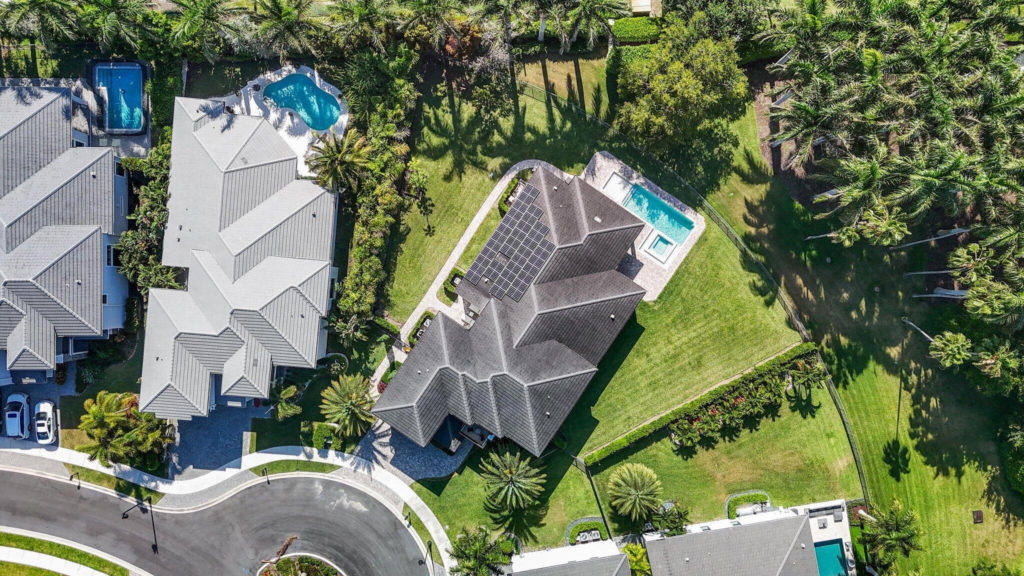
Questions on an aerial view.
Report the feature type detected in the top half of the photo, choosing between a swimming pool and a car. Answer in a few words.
swimming pool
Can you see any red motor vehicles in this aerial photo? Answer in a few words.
No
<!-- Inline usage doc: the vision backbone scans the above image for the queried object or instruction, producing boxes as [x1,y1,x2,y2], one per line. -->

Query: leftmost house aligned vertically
[0,86,132,383]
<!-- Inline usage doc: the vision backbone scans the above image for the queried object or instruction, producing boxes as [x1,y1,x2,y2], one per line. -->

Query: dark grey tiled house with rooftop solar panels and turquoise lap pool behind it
[371,165,647,457]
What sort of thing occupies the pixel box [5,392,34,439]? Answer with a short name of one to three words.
car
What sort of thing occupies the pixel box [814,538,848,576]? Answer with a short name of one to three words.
swimming pool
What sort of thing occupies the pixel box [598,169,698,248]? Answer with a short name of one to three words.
swimming pool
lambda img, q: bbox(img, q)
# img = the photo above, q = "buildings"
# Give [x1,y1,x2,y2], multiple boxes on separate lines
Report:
[139,95,339,422]
[0,86,132,383]
[371,165,647,457]
[507,540,631,576]
[644,507,820,576]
